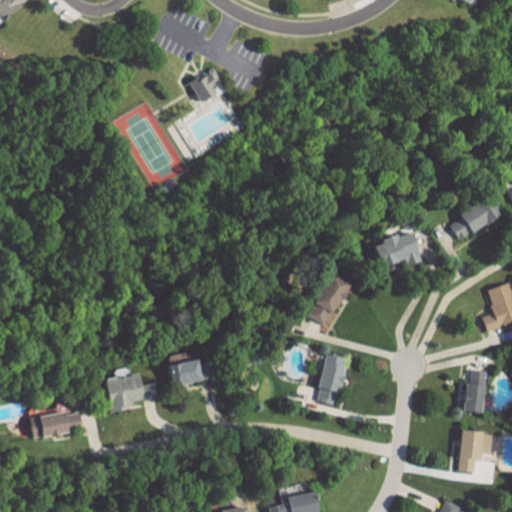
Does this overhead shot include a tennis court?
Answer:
Yes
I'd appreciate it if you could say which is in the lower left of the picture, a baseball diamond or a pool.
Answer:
pool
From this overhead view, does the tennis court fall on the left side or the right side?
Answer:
left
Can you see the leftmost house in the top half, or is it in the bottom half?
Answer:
bottom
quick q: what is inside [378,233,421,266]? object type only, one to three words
house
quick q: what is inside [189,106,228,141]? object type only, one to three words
swimming pool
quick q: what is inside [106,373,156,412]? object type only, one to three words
house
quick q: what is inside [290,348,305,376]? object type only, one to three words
swimming pool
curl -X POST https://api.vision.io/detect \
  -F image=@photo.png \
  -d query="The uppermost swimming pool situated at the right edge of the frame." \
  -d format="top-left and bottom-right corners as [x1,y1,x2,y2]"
[492,376,512,412]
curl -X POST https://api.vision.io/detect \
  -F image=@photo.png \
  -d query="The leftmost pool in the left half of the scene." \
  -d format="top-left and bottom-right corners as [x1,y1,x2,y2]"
[0,402,24,424]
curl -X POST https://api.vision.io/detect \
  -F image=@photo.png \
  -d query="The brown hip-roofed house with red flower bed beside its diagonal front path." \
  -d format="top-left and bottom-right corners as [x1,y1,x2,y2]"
[310,277,352,326]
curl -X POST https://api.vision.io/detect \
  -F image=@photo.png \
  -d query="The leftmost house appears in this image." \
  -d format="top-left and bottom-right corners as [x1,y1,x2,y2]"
[30,412,82,442]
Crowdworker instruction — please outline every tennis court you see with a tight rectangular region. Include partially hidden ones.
[114,102,187,188]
